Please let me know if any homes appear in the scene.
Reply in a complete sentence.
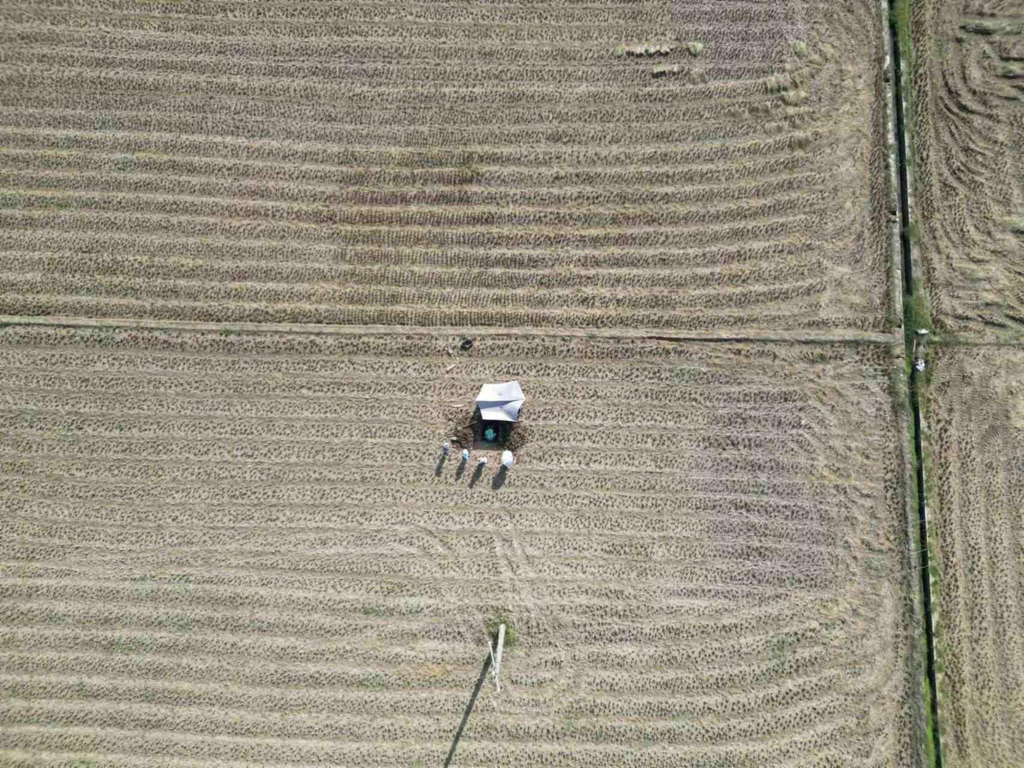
No, I can see no home in this picture.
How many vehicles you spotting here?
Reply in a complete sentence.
I count no vehicles.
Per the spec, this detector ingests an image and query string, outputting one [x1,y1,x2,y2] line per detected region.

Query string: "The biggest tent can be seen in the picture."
[475,380,526,421]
